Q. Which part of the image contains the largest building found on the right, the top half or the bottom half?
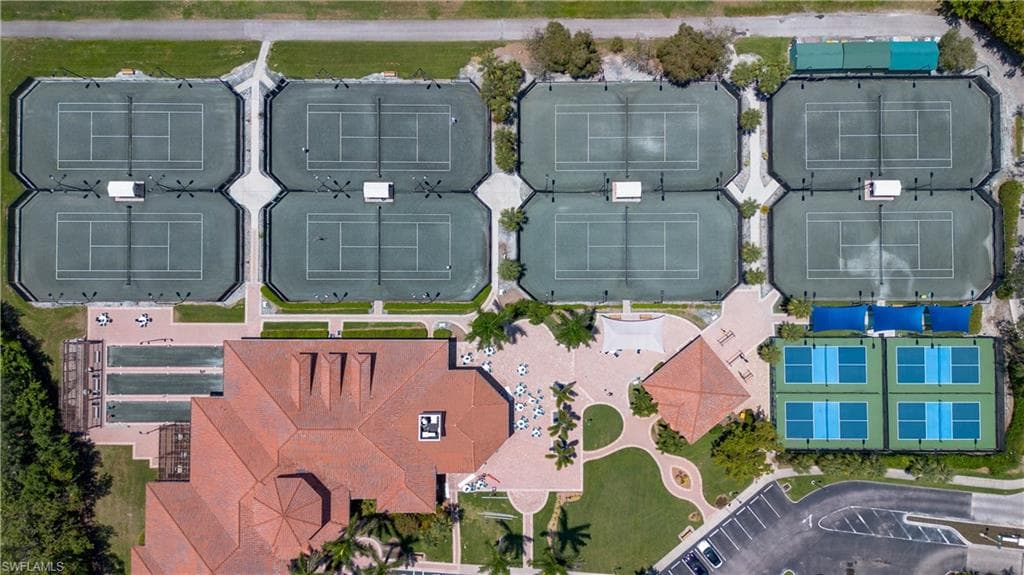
bottom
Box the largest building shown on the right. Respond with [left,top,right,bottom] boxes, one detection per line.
[642,334,751,444]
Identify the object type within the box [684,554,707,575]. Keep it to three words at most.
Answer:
car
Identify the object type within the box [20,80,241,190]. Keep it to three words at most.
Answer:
tennis court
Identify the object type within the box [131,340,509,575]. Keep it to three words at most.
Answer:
building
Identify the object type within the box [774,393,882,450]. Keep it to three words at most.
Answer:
sports court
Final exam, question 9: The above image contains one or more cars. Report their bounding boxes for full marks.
[684,554,707,575]
[699,542,723,570]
